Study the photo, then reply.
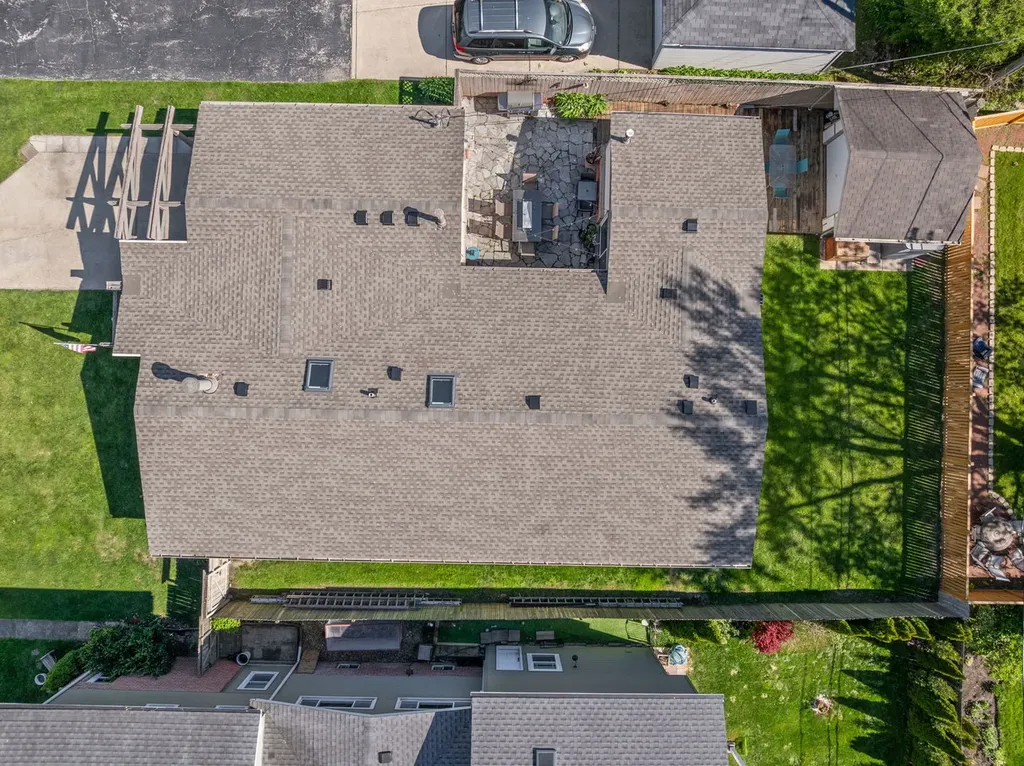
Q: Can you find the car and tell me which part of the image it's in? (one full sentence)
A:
The car sits in the top section of the image.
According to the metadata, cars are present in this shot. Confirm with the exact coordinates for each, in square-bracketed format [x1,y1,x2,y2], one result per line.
[452,0,596,62]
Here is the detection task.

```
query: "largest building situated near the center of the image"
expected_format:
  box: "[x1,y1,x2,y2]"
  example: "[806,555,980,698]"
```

[108,99,769,571]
